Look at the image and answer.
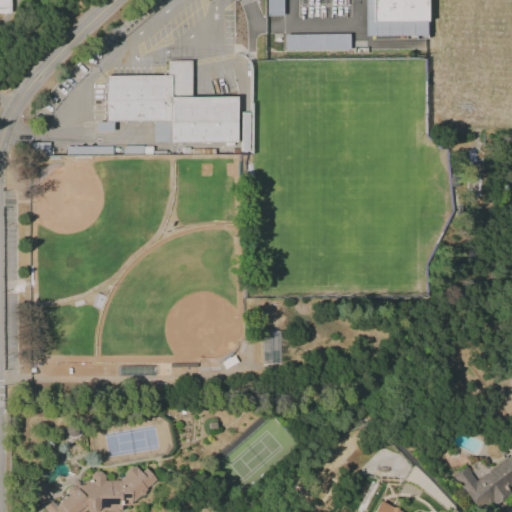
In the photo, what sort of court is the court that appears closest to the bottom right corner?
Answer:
tennis court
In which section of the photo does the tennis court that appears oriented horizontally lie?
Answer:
bottom left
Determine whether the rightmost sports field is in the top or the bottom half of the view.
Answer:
top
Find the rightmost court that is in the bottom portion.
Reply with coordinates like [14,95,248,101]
[222,418,296,484]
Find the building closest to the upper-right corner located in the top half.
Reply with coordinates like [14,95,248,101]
[368,0,432,36]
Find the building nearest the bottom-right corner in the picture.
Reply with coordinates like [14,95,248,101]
[448,459,512,510]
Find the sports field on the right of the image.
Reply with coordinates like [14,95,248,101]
[246,60,454,297]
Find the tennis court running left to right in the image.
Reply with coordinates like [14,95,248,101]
[106,426,158,455]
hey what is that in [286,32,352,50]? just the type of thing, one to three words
shed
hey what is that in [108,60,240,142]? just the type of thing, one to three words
building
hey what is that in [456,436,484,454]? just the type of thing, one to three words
swimming pool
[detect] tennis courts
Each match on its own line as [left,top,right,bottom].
[106,426,158,455]
[222,418,296,484]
